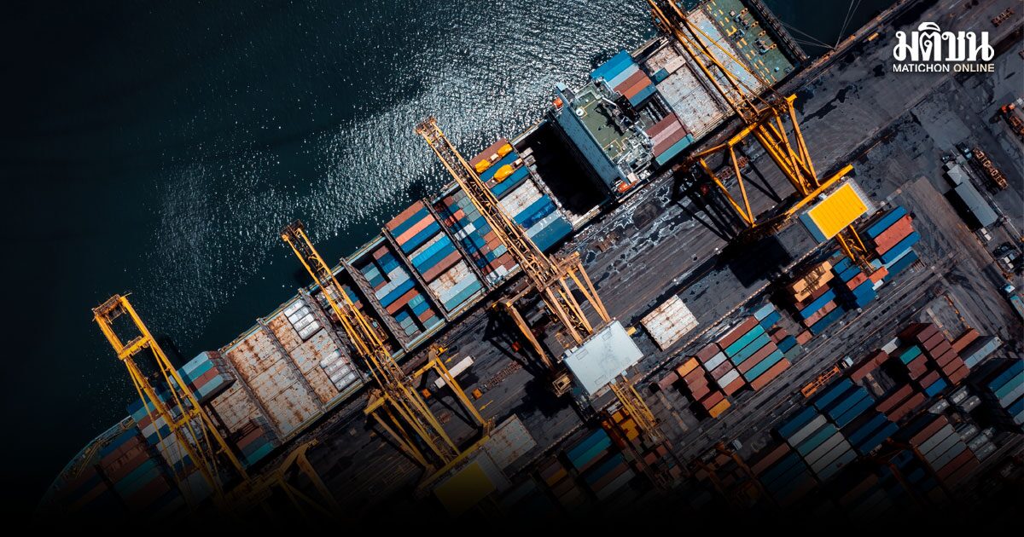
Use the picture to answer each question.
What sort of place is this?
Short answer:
port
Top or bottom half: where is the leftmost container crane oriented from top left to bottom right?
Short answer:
bottom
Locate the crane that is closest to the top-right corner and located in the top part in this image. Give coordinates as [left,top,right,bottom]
[649,0,884,282]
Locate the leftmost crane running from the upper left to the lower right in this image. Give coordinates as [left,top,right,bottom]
[91,293,372,537]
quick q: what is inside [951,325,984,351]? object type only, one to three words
shipping container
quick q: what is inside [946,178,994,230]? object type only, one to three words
shed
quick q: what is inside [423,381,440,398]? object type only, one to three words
vehicle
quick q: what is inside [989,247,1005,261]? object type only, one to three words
car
